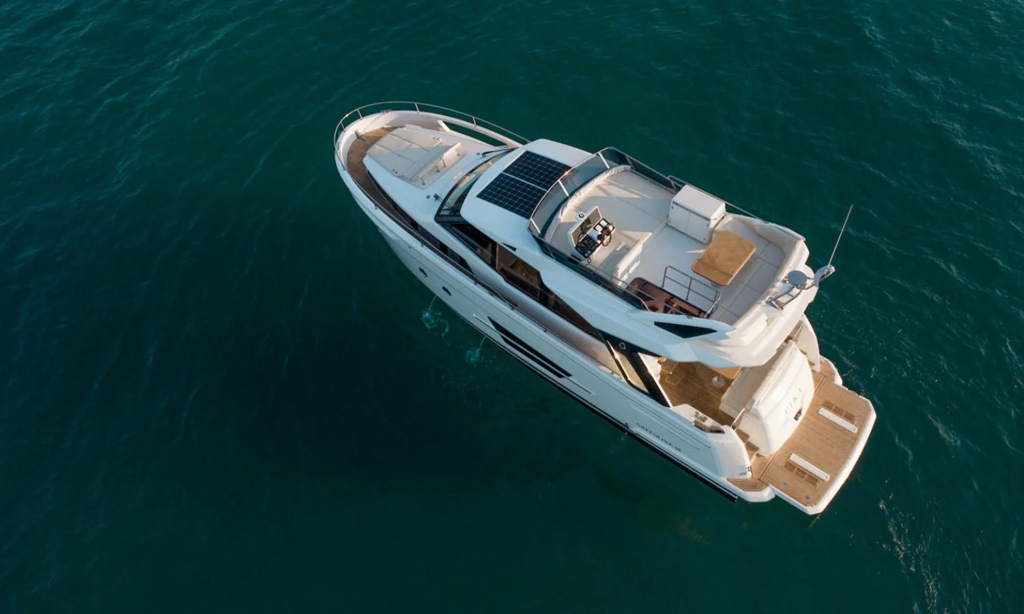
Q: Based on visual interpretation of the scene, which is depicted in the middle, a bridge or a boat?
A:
boat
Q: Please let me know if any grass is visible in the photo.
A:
No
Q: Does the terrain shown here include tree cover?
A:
No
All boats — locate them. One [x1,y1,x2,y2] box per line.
[333,100,877,516]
